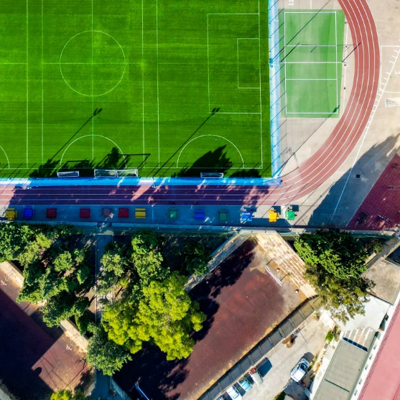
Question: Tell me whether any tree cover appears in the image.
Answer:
Yes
